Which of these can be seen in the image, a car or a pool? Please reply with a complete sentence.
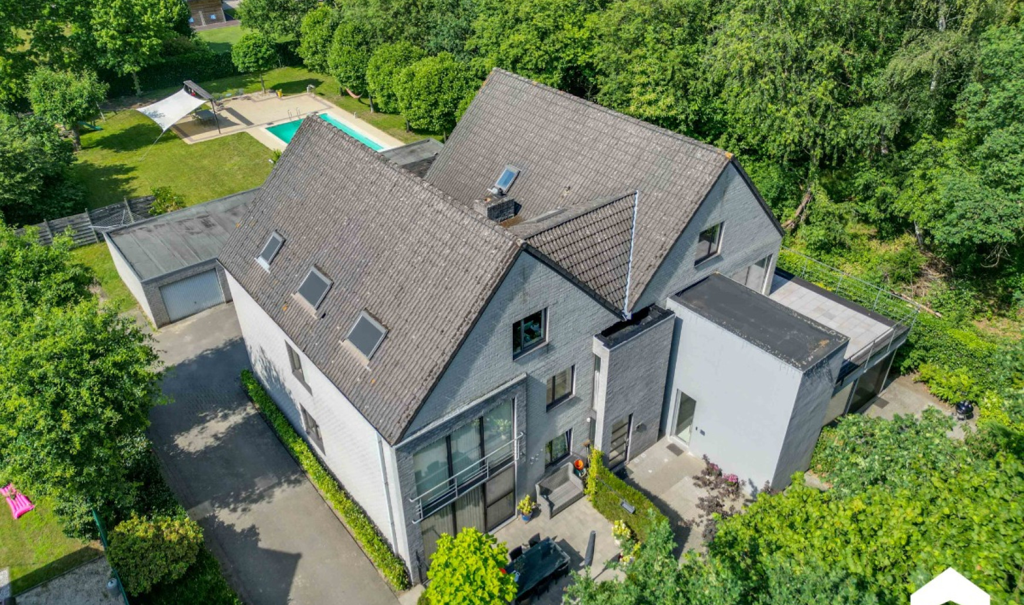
It is a pool that can be seen here.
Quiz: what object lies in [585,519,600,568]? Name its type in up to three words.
umbrella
